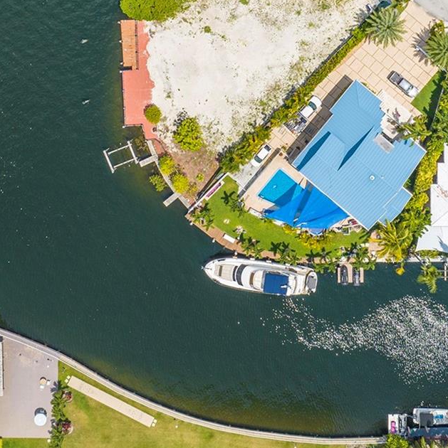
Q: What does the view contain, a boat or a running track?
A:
boat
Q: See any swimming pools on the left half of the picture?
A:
No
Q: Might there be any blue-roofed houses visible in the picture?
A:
Yes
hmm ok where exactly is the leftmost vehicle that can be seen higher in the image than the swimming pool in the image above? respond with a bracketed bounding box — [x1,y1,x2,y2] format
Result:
[249,142,273,168]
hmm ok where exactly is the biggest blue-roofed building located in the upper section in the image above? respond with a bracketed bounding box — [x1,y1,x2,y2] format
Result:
[292,80,425,229]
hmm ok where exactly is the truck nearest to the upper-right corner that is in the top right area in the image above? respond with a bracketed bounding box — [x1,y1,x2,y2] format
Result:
[387,70,419,98]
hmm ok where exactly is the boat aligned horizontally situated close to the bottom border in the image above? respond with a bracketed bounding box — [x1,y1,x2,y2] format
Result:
[409,408,448,426]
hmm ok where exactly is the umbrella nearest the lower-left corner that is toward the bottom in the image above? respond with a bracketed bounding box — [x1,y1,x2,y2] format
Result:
[34,411,48,425]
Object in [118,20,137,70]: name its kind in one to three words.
pier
